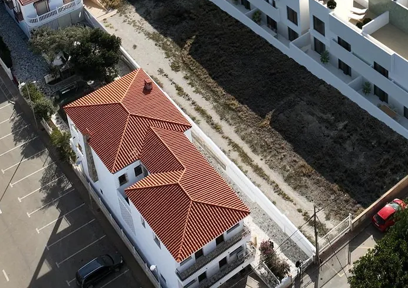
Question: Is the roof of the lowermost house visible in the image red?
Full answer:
Yes, red is the color of the roof of the lowermost house.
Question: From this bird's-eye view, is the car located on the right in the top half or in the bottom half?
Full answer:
Seen from above, the car located on the right lies in the bottom half of the view.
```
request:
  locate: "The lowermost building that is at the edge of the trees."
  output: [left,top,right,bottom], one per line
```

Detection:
[61,68,261,288]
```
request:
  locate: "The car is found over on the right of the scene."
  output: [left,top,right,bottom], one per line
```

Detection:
[370,197,408,228]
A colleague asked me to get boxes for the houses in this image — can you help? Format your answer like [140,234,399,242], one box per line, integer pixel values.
[61,68,261,288]
[2,0,87,45]
[307,0,408,121]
